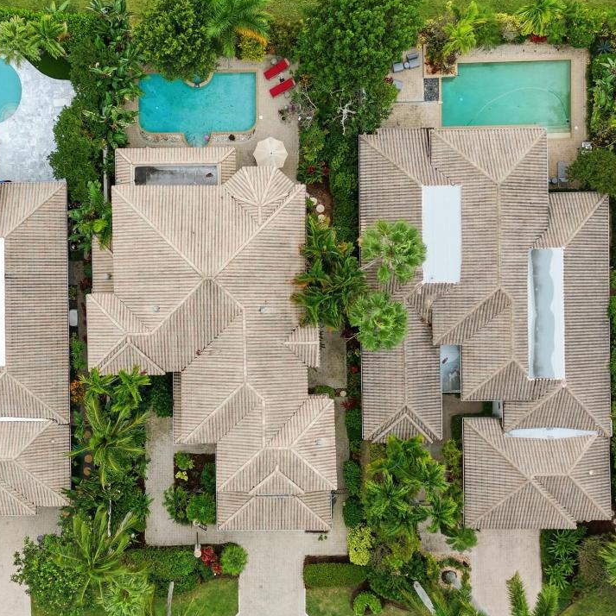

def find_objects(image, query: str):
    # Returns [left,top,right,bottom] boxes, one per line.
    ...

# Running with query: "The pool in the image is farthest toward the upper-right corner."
[438,56,575,136]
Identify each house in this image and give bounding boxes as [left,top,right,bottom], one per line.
[85,146,339,531]
[358,127,614,530]
[0,181,73,516]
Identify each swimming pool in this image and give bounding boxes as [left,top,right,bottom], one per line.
[0,58,26,126]
[136,68,260,147]
[438,56,575,136]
